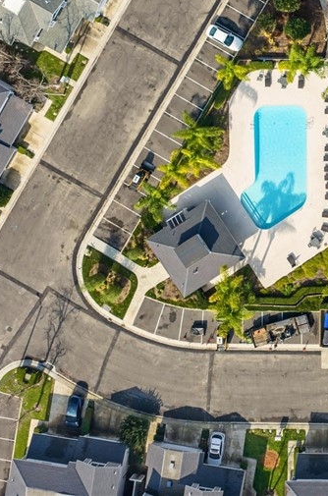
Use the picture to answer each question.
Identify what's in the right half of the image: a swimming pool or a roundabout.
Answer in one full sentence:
The one visible in the right half of the image is a swimming pool.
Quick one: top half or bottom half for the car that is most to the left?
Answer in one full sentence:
The car that is most to the left is in the bottom half of the image.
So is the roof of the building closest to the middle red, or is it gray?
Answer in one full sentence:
The roof of the building closest to the middle looks gray in the image.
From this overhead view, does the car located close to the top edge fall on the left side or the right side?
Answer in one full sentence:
The car located close to the top edge appears in the right half of the scene.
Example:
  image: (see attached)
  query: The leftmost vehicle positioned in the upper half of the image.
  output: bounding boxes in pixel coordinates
[127,160,150,191]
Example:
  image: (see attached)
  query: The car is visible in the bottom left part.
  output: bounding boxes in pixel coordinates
[65,393,86,430]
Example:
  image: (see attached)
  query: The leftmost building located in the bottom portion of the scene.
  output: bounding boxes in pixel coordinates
[5,429,132,496]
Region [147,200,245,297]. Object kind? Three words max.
building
